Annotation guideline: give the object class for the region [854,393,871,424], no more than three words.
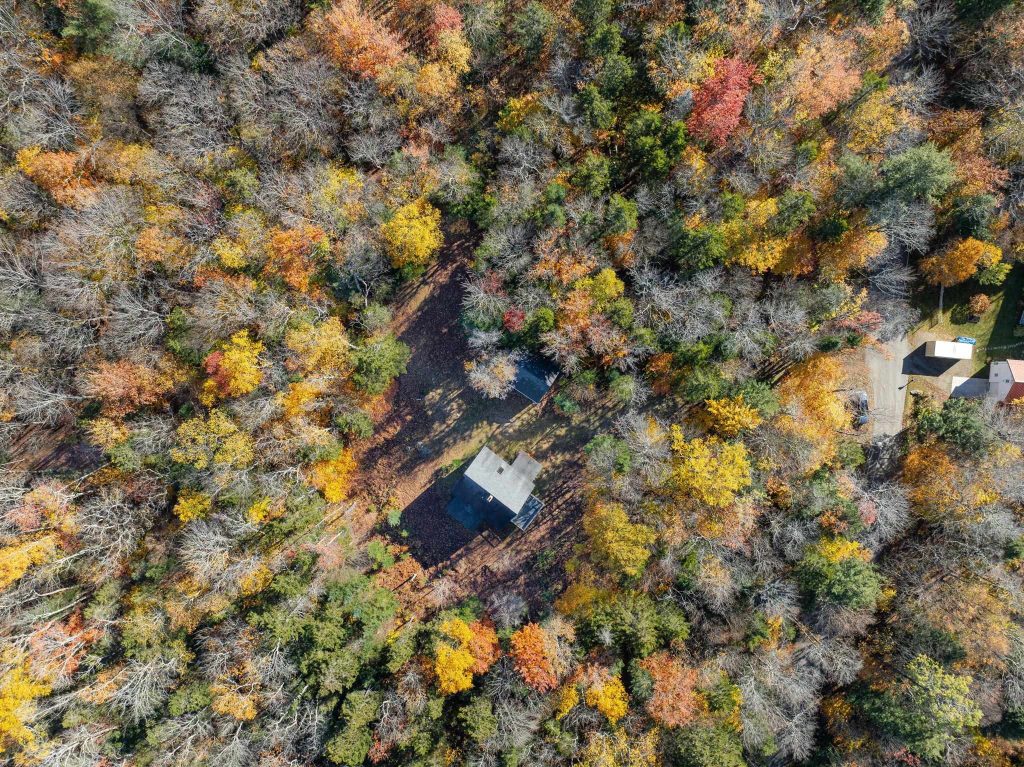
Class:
car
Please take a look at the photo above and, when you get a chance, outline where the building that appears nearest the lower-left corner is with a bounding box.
[439,445,545,533]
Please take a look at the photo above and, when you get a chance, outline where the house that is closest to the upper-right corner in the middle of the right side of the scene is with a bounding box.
[989,359,1024,403]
